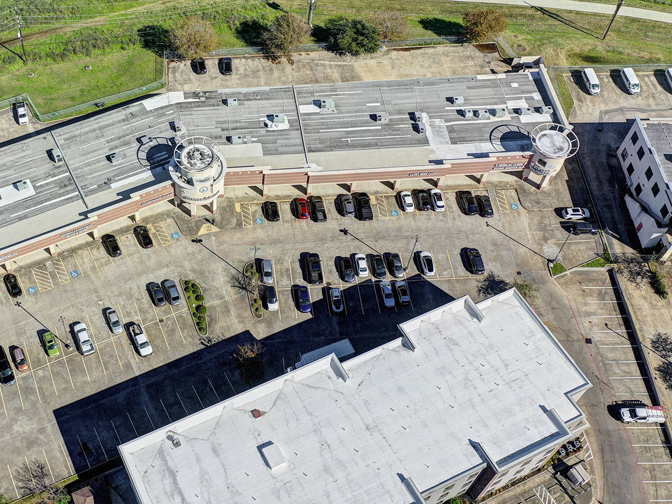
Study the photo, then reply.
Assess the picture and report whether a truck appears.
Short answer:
Yes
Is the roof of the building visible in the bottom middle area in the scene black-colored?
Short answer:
No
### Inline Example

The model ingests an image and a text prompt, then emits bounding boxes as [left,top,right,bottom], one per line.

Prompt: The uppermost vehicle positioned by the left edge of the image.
[13,100,29,125]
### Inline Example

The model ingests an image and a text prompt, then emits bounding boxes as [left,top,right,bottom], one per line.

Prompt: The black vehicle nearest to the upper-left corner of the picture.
[194,58,208,78]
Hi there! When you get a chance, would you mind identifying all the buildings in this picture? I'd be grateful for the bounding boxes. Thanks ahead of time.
[0,64,578,270]
[118,288,592,504]
[72,487,113,504]
[614,116,672,260]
